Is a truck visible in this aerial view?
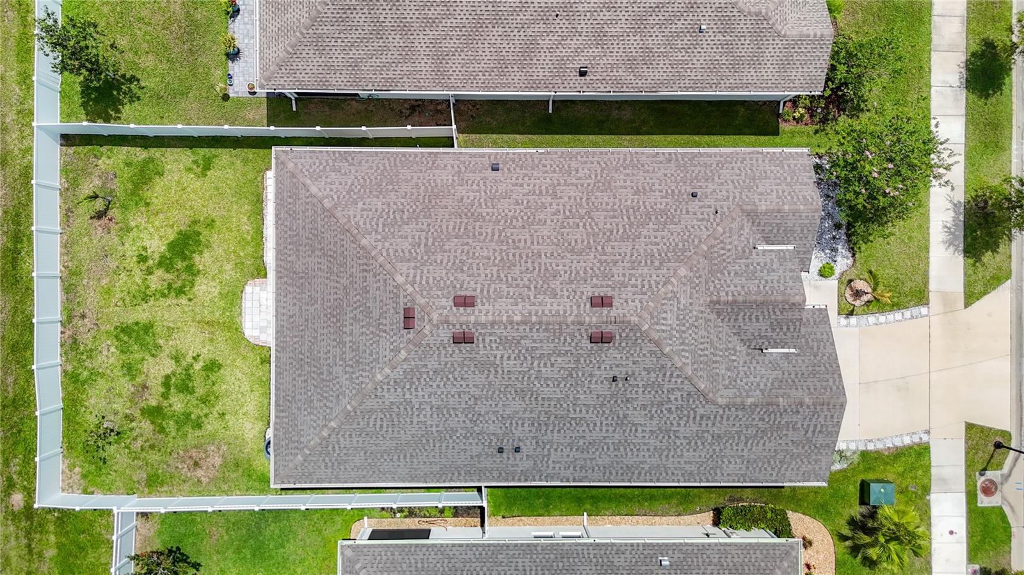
No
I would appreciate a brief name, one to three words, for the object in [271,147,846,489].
house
